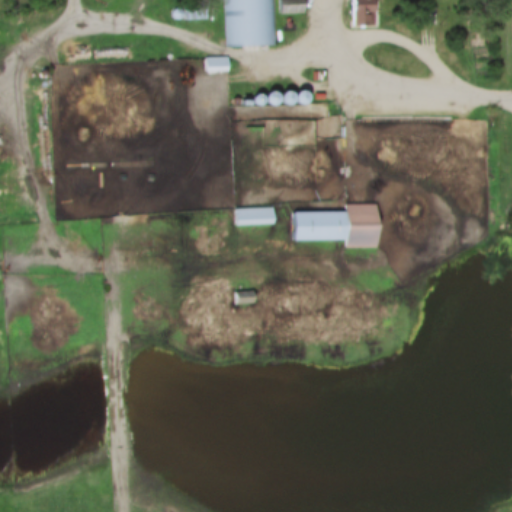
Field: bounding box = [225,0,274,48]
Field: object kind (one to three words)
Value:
barn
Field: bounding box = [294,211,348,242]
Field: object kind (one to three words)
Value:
shed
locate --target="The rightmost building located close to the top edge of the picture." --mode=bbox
[350,0,381,30]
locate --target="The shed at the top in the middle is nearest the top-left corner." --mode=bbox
[203,57,230,74]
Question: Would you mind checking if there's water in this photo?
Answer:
Yes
